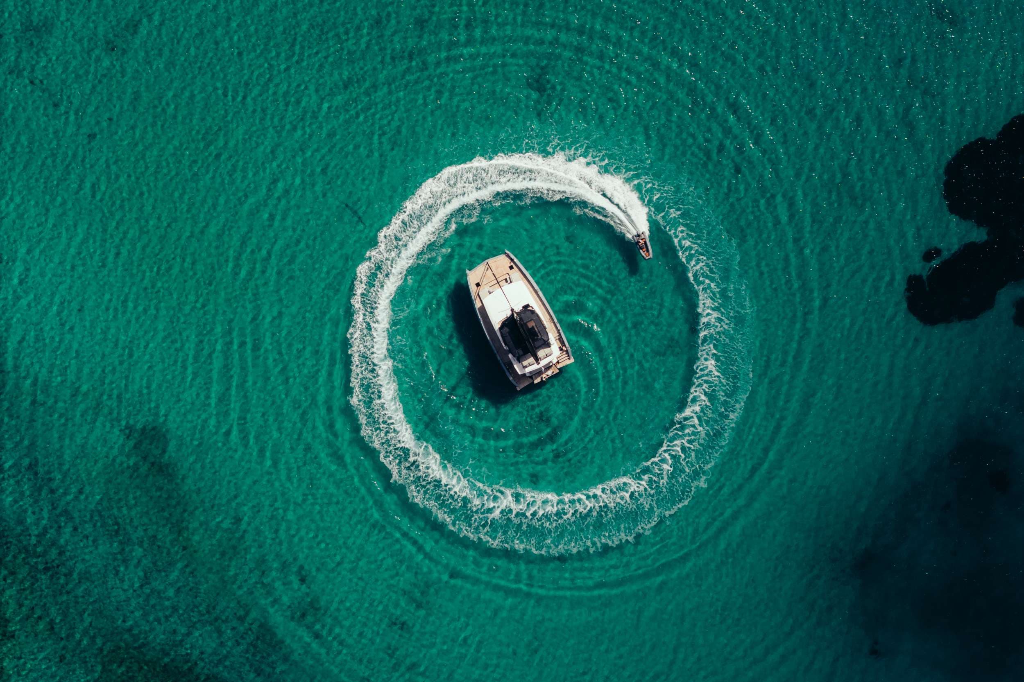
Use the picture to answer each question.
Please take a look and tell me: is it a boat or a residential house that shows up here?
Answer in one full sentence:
I can see a boat in this picture.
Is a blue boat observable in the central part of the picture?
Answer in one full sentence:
No, no blue boat is visible in the central part of the picture.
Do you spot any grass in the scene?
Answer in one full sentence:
No, no grass is visible.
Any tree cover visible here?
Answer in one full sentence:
No, tree cover can't be seen anywhere here.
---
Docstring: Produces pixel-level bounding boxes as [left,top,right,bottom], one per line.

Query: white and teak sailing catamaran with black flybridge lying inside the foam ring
[466,249,574,389]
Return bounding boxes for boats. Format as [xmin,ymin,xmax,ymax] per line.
[633,231,653,260]
[466,249,574,389]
